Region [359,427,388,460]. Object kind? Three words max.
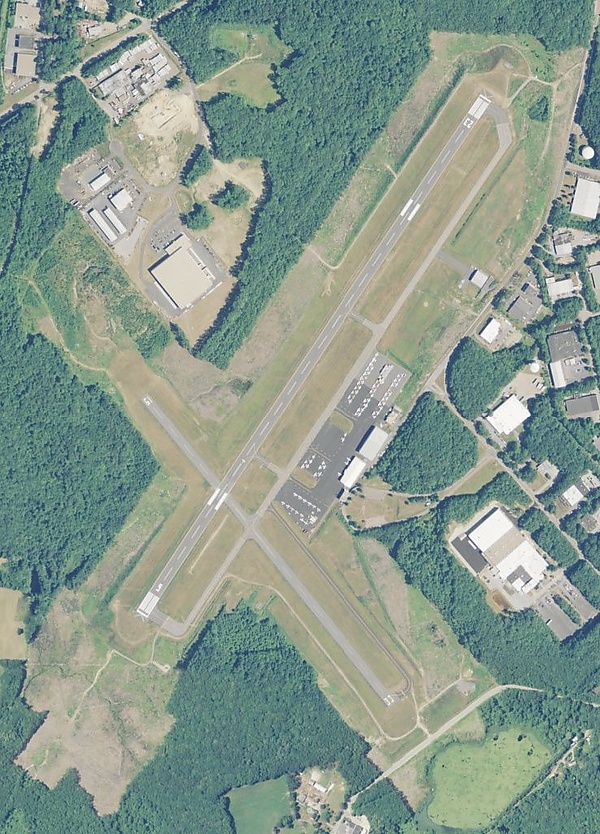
hangar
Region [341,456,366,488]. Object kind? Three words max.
hangar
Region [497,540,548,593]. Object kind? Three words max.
building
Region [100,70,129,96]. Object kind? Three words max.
shed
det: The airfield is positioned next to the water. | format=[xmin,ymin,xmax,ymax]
[135,91,513,709]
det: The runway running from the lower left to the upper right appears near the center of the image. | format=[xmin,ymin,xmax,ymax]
[137,94,491,617]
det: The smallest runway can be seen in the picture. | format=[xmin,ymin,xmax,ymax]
[143,395,392,709]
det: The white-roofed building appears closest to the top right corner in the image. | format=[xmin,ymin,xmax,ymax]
[572,178,600,218]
